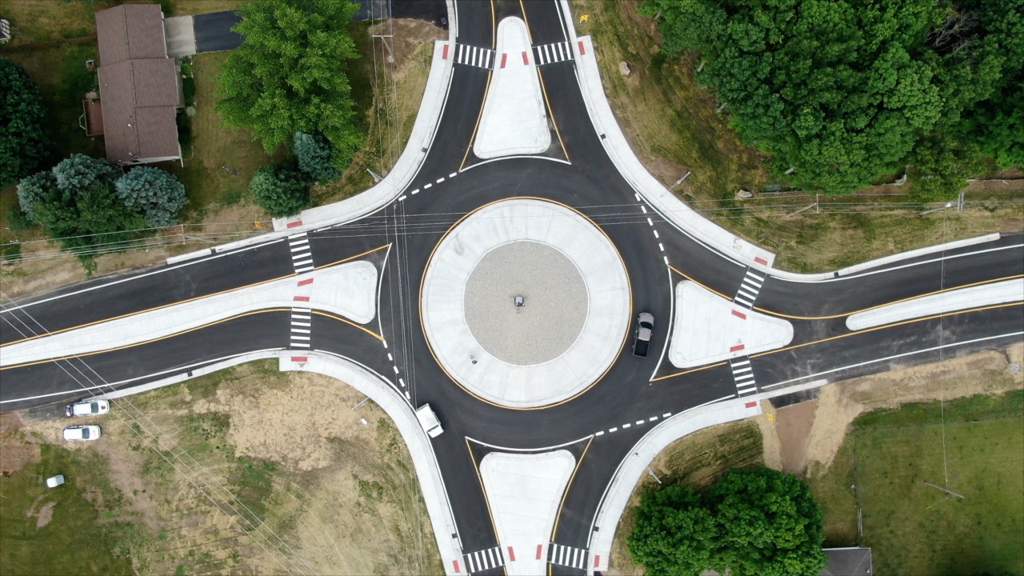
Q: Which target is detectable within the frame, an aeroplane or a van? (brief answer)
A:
van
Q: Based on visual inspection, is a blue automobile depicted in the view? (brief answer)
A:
No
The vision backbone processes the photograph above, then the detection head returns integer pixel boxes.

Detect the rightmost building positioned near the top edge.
[78,3,195,166]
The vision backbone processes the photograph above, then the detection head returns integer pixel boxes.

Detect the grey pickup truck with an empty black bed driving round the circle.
[632,311,654,358]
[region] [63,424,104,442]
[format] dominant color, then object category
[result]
white car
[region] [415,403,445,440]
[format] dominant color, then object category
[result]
white van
